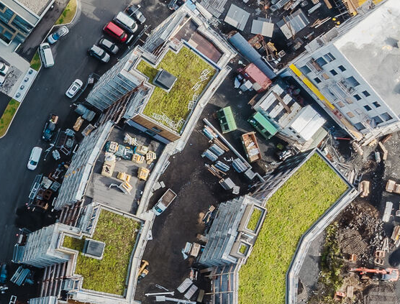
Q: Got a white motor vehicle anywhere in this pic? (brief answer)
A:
Yes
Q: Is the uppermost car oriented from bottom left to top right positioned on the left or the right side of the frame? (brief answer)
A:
left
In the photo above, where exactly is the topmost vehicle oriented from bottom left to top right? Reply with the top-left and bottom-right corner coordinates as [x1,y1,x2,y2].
[47,24,67,45]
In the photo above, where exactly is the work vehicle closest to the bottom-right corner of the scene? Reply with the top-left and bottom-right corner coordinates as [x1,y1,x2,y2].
[345,266,398,283]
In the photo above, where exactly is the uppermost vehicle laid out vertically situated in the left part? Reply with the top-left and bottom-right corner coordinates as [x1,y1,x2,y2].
[38,44,53,69]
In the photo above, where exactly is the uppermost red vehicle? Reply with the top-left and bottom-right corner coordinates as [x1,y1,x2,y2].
[103,20,127,43]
